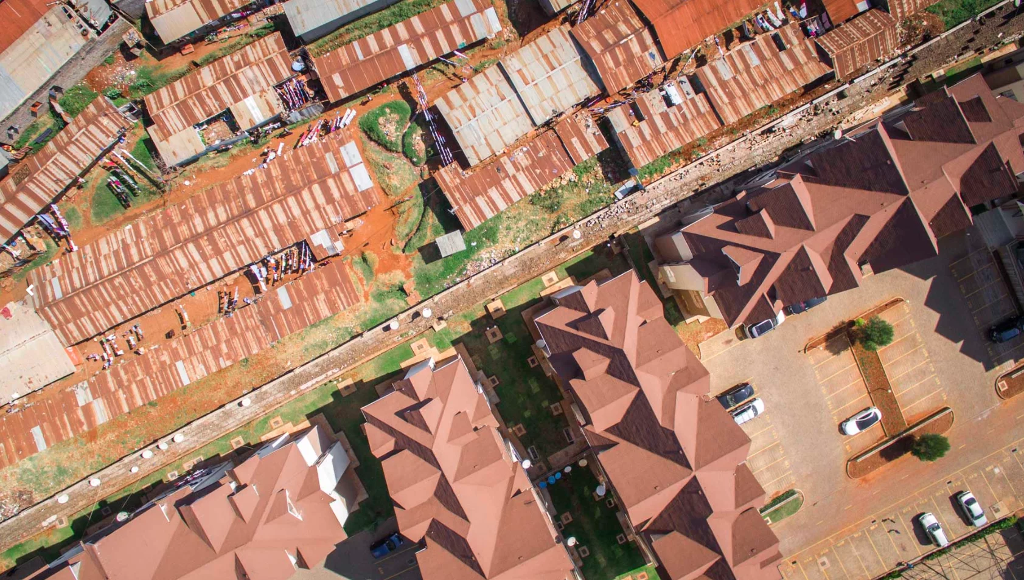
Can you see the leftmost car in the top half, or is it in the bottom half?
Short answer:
bottom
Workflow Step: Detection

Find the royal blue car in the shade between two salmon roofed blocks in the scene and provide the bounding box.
[365,530,406,561]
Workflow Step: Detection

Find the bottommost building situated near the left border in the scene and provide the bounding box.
[13,429,362,580]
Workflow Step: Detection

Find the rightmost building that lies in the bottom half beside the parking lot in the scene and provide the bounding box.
[535,269,783,580]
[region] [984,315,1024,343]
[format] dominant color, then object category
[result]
black car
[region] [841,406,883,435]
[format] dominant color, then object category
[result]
white car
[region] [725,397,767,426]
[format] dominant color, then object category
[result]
white car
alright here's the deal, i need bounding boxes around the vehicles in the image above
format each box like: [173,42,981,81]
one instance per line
[365,530,406,561]
[917,508,951,550]
[841,406,883,435]
[725,397,767,426]
[737,314,782,343]
[783,296,827,318]
[713,382,755,412]
[984,315,1024,343]
[954,488,987,529]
